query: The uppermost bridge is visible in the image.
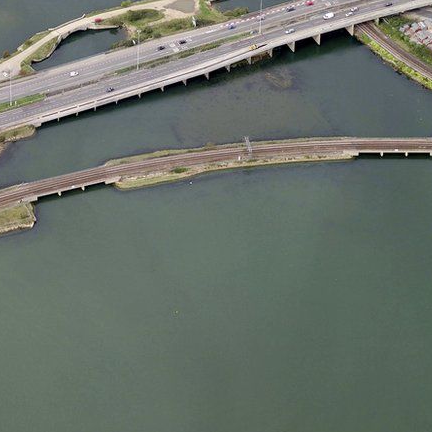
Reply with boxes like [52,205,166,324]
[23,0,432,117]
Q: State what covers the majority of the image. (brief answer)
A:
water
